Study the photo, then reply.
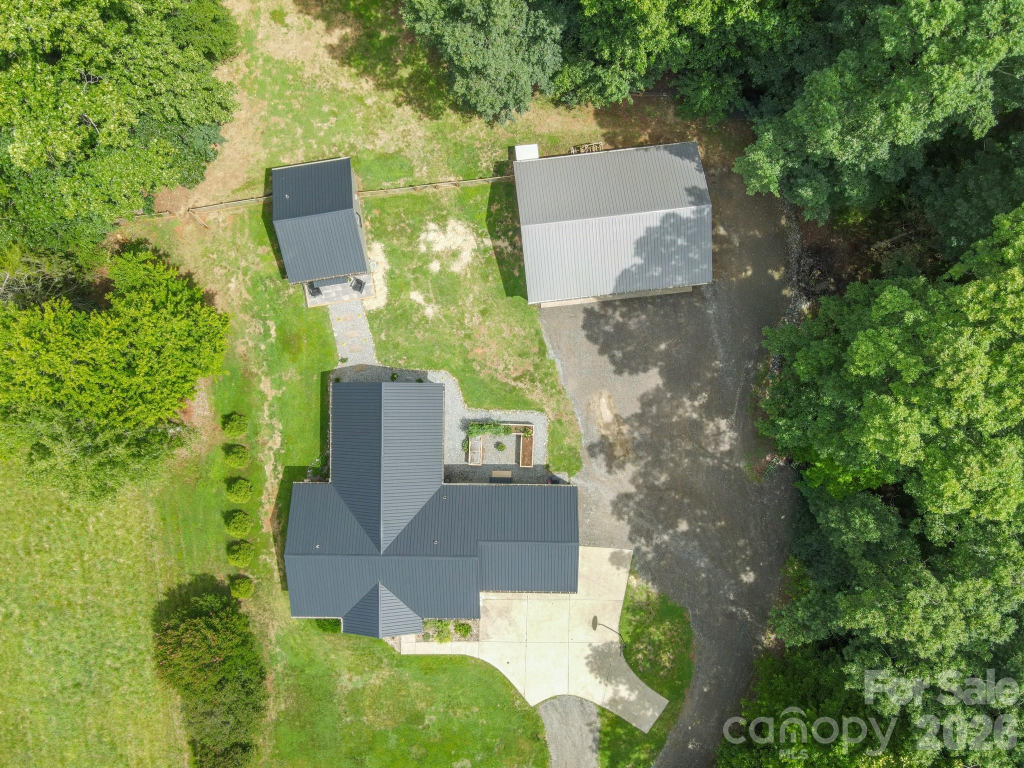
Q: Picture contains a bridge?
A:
No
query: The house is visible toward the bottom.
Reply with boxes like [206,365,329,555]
[283,382,581,639]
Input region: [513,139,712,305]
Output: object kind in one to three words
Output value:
barn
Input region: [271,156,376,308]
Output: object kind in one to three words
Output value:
shed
